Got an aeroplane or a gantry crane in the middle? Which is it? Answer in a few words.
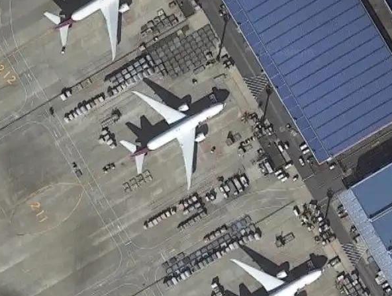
aeroplane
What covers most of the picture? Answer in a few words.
paved ground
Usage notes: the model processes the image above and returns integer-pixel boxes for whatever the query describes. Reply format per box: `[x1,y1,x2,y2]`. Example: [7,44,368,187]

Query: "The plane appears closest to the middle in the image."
[119,90,224,189]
